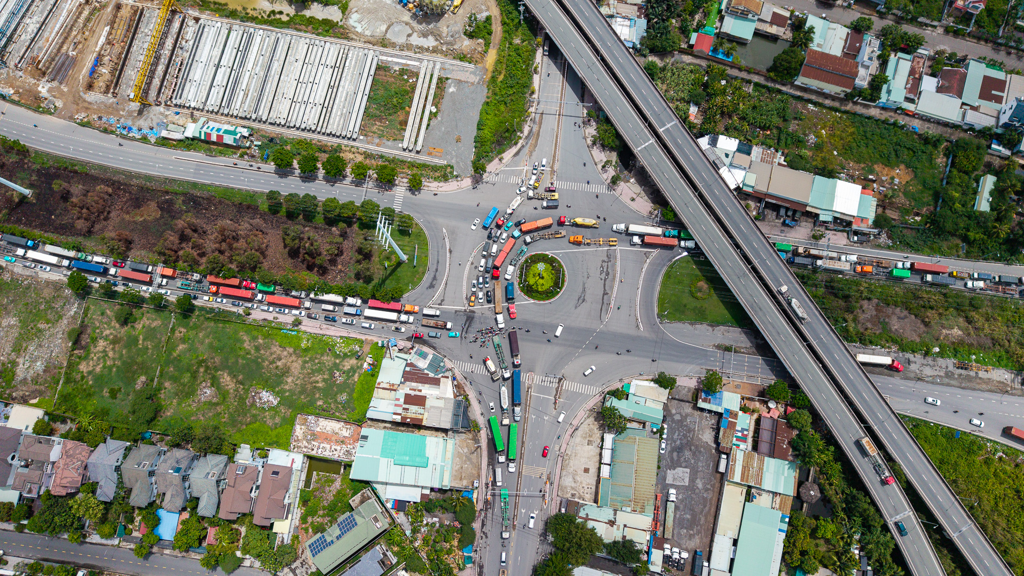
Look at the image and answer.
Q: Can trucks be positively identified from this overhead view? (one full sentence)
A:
Yes, this view includes a truck.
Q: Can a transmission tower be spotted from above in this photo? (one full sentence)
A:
Yes, a transmission tower is visible in the scene.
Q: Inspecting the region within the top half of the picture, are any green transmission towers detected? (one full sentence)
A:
No, looking within the top half of the picture, there is no green transmission tower.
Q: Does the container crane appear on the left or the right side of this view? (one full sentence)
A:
You can find the container crane on the left side of the picture.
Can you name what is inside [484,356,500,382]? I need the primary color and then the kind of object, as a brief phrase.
white vehicle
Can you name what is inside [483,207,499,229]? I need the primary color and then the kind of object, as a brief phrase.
blue vehicle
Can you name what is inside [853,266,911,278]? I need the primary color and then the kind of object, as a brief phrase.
green vehicle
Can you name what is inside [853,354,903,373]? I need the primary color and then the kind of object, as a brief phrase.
white vehicle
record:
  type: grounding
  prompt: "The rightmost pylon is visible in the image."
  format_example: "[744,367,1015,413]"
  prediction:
[378,214,411,266]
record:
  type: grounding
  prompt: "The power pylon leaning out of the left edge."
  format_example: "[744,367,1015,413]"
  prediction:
[0,177,36,199]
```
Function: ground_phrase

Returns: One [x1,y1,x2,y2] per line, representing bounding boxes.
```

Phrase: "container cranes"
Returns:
[129,0,191,112]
